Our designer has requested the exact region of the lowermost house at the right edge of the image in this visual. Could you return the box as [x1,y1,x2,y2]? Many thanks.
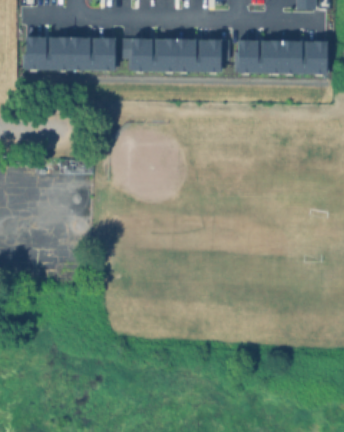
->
[236,40,328,78]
